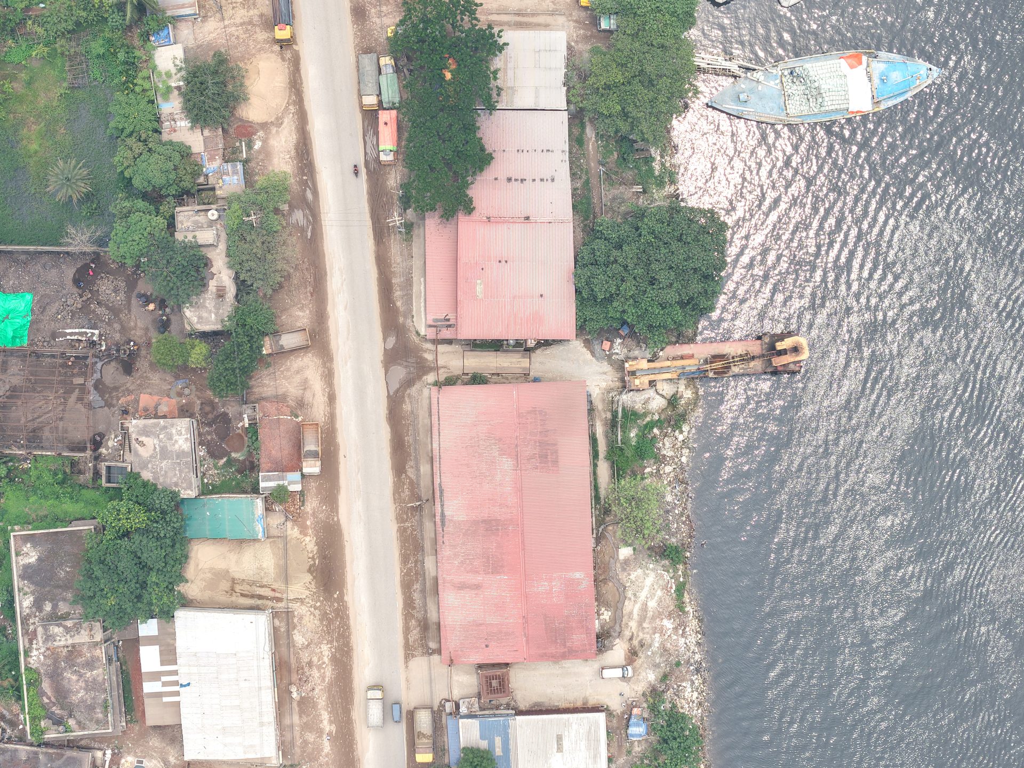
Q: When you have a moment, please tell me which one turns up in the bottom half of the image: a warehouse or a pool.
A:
warehouse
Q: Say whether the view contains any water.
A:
Yes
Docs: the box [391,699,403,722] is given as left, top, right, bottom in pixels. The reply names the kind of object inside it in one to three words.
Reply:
vehicle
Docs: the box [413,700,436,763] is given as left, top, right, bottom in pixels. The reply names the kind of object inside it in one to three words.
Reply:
truck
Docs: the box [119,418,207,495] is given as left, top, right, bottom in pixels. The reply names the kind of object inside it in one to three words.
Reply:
house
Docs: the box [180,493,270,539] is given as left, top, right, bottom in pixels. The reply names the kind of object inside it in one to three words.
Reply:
shed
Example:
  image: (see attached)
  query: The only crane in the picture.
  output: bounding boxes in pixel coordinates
[688,336,808,372]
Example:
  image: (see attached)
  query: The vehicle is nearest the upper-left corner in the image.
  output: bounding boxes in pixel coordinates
[273,0,297,54]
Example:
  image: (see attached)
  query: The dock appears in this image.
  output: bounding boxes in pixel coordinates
[691,52,779,76]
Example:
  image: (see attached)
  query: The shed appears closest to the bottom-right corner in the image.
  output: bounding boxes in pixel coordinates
[625,708,656,741]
